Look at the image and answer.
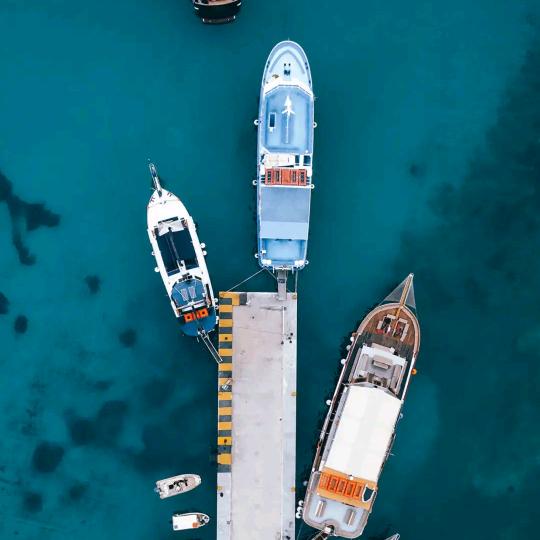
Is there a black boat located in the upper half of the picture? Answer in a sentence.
Yes, a black boat shows up in the upper half of the picture.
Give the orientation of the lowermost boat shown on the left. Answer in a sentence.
The lowermost boat shown on the left is laid out from left to right.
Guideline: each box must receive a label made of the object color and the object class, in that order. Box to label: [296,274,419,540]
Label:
white boat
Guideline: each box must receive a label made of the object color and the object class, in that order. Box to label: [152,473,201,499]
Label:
white boat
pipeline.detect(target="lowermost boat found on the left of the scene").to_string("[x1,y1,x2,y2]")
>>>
[169,509,210,530]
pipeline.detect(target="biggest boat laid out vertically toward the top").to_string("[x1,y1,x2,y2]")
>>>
[252,36,317,300]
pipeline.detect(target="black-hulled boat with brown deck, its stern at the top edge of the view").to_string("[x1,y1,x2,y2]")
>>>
[197,0,244,23]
